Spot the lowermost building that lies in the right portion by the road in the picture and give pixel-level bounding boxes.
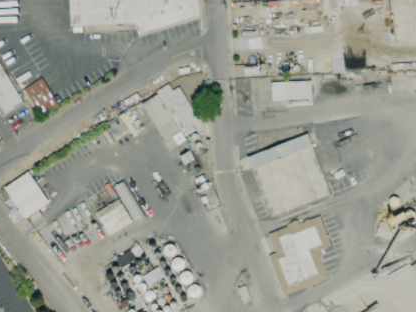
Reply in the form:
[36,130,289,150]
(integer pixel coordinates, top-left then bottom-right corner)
[270,215,330,295]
